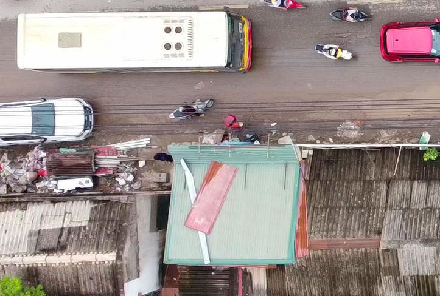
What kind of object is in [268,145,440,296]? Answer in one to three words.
house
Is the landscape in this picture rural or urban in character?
urban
